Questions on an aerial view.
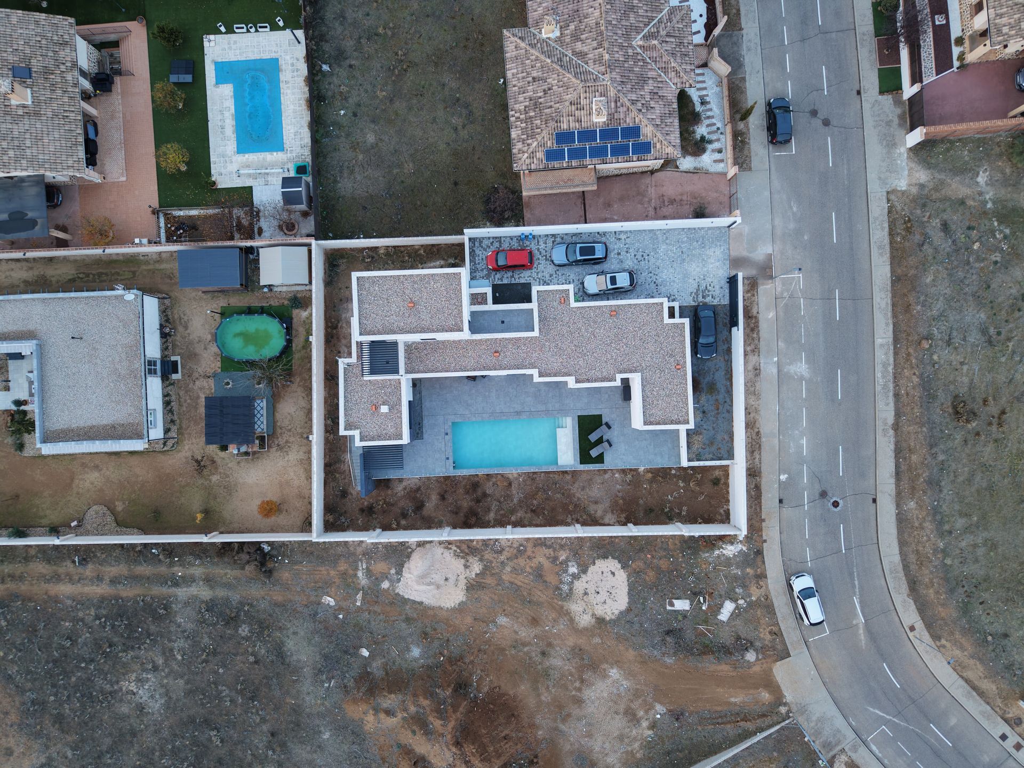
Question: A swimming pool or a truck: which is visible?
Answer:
swimming pool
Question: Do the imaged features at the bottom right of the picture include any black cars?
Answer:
No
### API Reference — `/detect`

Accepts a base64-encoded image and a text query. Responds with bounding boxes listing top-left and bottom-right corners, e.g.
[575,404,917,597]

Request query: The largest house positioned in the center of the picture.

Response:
[339,268,694,446]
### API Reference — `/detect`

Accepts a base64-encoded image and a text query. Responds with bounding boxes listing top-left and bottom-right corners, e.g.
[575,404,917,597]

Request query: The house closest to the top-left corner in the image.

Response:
[0,14,108,186]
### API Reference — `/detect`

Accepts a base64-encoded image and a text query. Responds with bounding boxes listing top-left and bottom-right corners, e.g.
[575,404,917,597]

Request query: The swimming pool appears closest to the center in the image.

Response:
[445,417,574,470]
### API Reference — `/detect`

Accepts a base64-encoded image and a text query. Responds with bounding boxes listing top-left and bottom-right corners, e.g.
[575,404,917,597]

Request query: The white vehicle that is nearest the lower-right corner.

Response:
[788,572,826,628]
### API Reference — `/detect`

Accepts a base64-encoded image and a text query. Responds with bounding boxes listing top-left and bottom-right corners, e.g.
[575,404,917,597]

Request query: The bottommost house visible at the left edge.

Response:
[0,282,176,454]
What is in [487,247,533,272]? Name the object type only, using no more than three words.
car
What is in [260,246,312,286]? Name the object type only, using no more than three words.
shed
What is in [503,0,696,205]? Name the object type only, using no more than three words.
house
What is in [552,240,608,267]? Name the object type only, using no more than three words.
car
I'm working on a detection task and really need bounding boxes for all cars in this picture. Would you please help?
[552,240,608,267]
[693,305,720,359]
[487,247,533,272]
[766,98,793,146]
[582,270,637,296]
[788,572,826,628]
[46,185,63,209]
